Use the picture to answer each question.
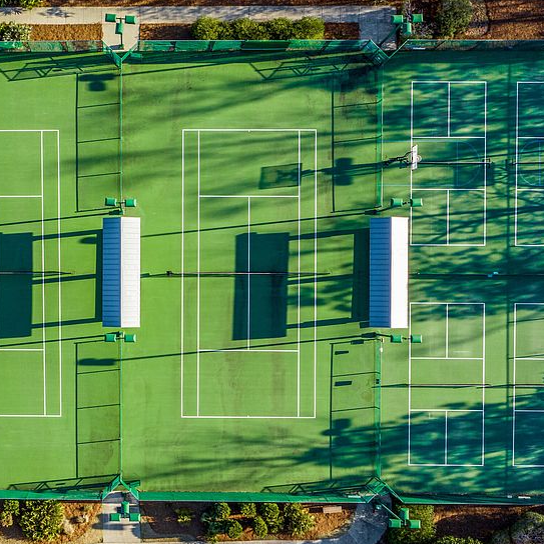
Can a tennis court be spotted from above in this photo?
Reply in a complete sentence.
Yes, you can see a tennis court in this photo.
